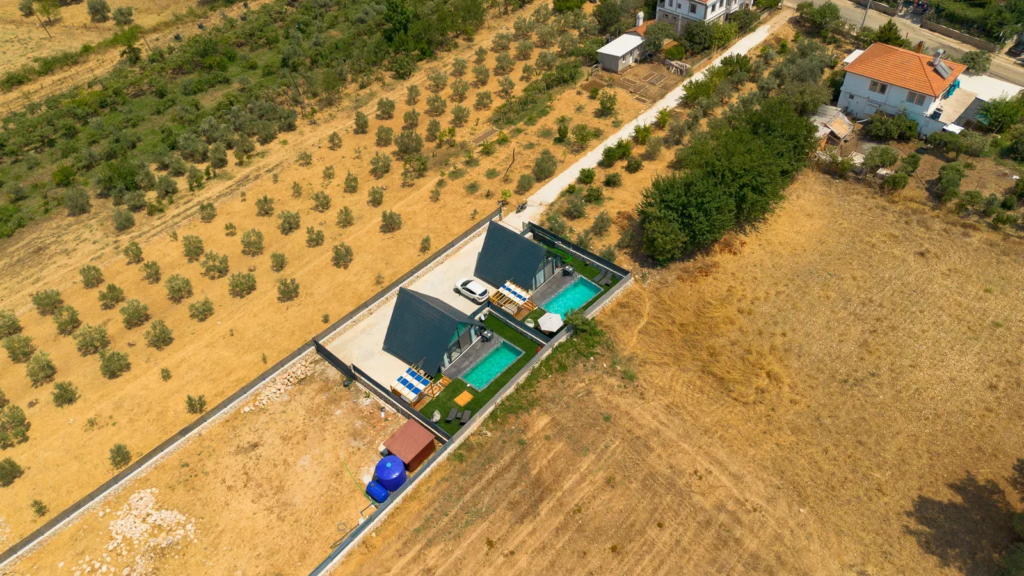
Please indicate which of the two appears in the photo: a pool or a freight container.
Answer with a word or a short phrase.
pool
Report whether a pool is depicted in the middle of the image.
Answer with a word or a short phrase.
Yes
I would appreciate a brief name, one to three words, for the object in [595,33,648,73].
shed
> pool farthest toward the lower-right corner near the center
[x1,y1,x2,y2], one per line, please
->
[542,274,602,320]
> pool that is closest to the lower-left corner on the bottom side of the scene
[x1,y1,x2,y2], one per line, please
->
[458,339,525,392]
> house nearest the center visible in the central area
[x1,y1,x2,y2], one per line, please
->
[473,222,570,303]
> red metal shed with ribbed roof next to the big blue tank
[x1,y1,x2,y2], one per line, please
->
[383,419,435,474]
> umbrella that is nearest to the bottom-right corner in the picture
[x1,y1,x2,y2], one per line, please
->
[534,310,566,335]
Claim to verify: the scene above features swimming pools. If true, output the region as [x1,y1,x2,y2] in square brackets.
[458,339,525,392]
[542,274,602,320]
